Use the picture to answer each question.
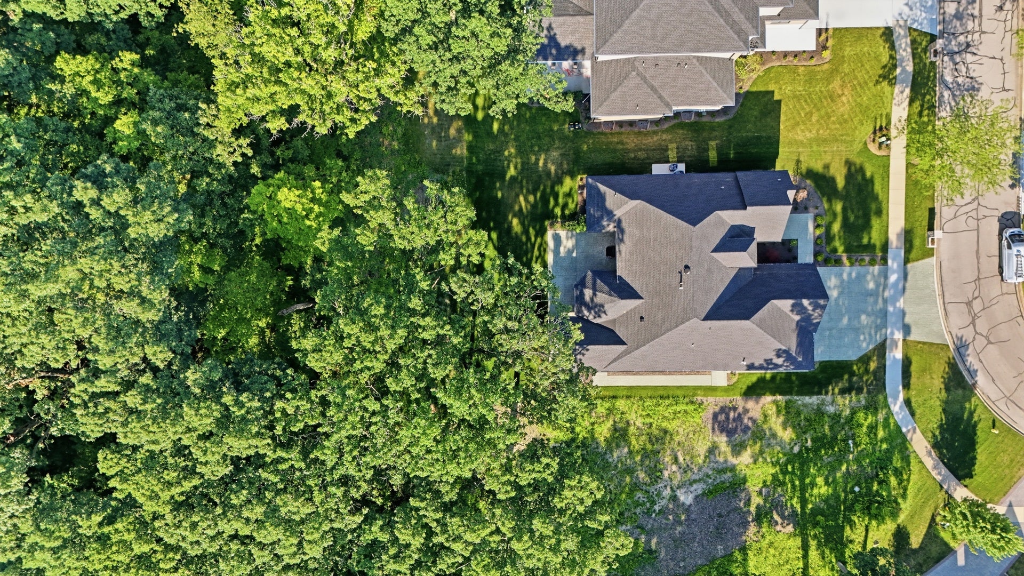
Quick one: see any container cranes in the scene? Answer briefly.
No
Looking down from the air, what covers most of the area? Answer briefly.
trees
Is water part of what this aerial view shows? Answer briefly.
No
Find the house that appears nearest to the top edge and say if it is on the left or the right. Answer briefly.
right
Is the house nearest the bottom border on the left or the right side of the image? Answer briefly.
right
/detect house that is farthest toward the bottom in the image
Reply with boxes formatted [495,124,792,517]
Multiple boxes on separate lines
[568,170,829,373]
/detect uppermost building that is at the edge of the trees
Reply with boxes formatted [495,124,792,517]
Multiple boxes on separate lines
[523,0,819,132]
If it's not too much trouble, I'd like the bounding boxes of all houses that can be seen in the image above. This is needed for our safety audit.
[568,170,829,373]
[523,0,819,132]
